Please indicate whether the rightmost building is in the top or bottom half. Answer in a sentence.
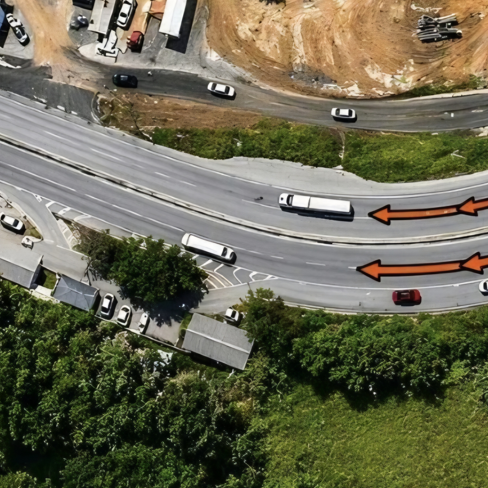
The rightmost building is in the bottom half of the image.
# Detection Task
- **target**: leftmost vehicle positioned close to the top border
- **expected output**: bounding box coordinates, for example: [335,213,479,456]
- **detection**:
[10,14,31,43]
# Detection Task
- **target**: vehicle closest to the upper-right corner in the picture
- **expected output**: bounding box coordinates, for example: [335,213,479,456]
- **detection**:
[330,108,358,121]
